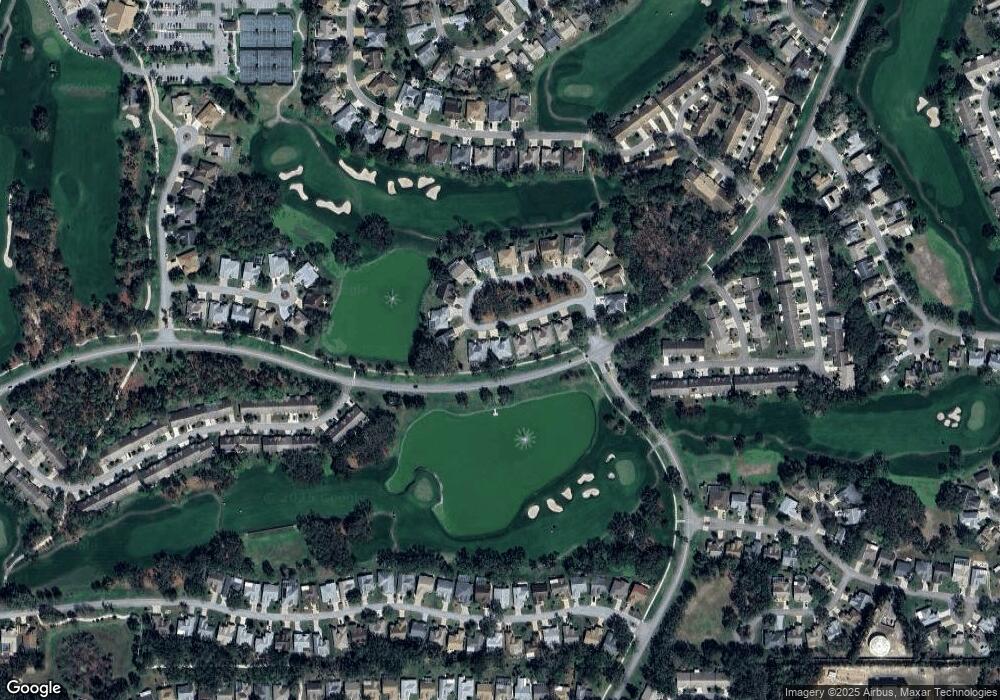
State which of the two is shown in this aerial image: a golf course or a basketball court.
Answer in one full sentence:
The image shows a golf course.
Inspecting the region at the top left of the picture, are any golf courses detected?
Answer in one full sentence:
Yes, a golf course is visible at the top left of the picture.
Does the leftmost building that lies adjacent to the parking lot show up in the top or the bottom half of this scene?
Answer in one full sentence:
The top half of the photo is where the leftmost building that lies adjacent to the parking lot is.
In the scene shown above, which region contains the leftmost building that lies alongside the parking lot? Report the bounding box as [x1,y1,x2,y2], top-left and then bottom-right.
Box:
[103,0,140,35]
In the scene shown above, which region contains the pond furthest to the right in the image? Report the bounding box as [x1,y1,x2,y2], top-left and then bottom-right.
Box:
[386,389,599,538]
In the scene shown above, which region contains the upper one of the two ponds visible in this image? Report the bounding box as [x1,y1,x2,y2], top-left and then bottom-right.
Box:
[322,246,432,362]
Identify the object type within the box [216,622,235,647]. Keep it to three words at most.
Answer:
house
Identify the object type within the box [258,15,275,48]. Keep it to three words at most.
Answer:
tennis court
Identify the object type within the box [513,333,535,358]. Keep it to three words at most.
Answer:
house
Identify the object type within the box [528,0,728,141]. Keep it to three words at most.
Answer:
golf course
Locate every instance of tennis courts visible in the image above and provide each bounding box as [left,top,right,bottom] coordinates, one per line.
[275,15,293,48]
[240,49,258,83]
[258,49,275,83]
[275,49,293,83]
[258,15,275,48]
[240,15,258,48]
